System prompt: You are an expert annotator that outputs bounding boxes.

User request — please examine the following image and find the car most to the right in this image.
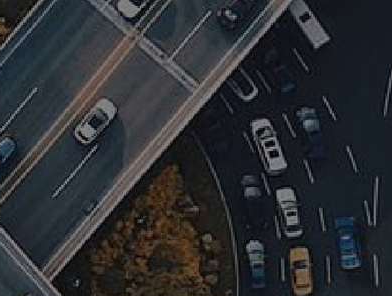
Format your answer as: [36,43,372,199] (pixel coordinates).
[332,217,360,271]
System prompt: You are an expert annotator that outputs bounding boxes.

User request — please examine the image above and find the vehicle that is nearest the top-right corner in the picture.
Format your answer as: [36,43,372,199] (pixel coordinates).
[279,0,328,54]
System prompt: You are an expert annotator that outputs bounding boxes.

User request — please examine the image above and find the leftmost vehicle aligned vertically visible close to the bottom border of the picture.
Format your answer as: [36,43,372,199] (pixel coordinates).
[241,238,268,292]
